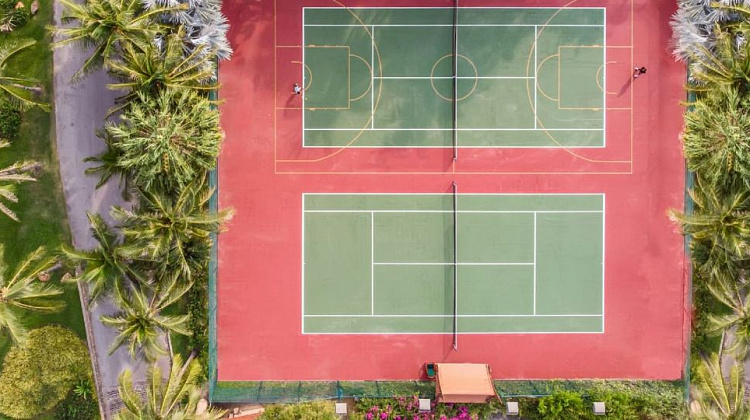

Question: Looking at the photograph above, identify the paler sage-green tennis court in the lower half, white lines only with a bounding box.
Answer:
[302,194,605,334]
